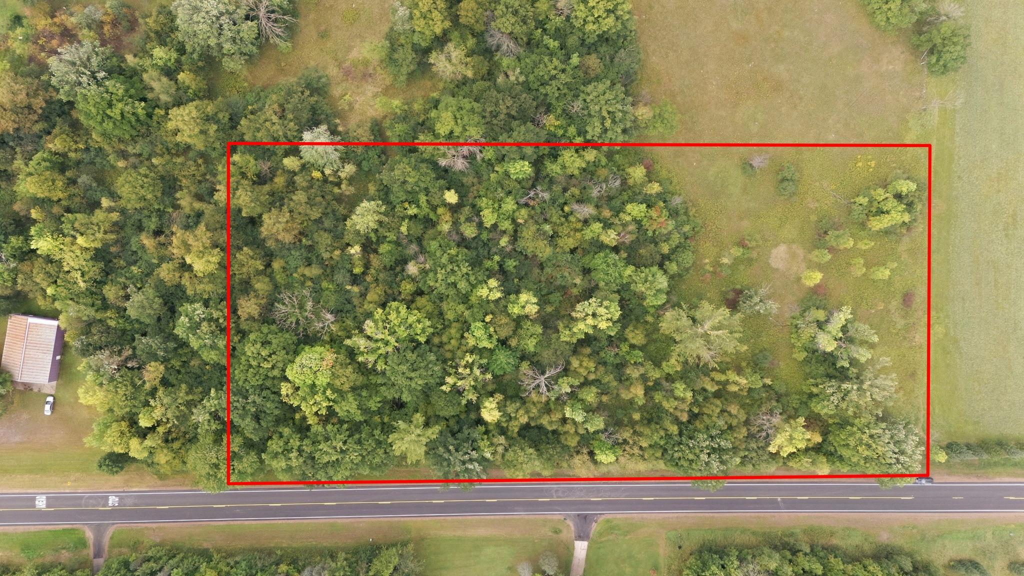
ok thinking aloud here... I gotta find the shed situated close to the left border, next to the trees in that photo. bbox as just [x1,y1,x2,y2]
[0,314,65,383]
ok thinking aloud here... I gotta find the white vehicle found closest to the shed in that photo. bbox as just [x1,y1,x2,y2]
[44,395,57,416]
